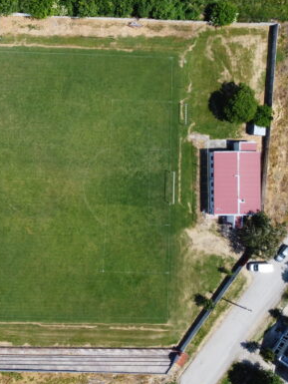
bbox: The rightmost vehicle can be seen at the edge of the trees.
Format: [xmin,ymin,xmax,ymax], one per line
[273,243,288,261]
